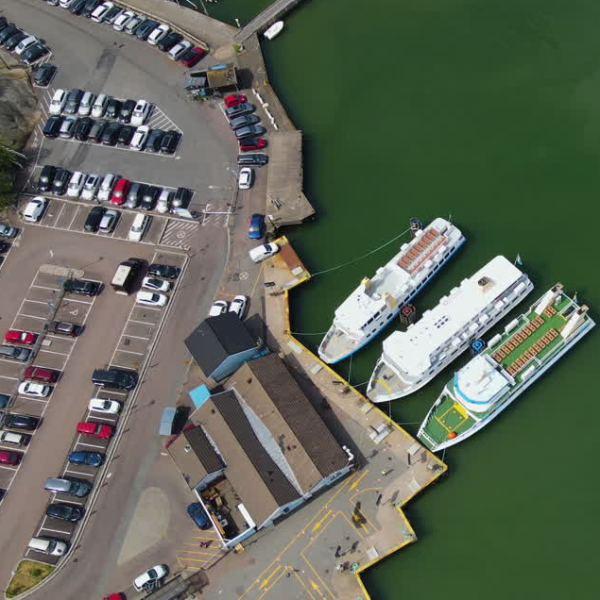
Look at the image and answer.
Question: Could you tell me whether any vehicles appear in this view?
Yes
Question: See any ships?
Yes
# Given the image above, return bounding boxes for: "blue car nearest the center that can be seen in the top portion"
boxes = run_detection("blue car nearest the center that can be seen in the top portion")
[248,211,265,237]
